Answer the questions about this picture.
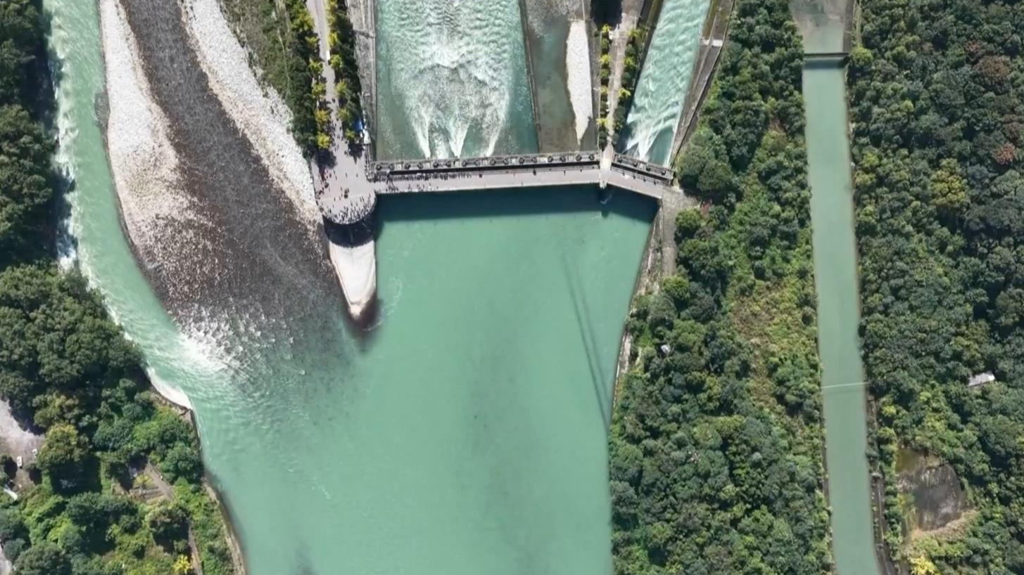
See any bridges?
Yes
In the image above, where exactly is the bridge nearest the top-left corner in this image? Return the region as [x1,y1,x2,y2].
[375,149,599,195]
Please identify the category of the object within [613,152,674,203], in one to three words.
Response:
bridge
